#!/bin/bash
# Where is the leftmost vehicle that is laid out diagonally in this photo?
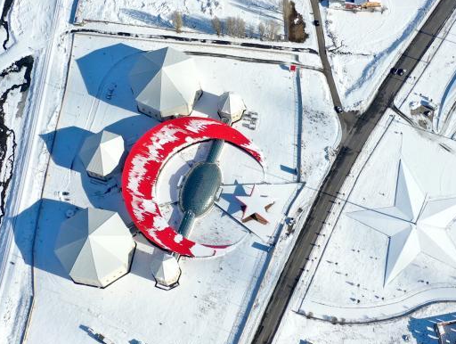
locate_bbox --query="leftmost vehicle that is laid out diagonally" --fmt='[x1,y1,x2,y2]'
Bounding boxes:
[87,328,115,344]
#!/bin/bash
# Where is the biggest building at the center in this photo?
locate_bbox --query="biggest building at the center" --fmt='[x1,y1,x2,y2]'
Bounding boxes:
[117,111,268,261]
